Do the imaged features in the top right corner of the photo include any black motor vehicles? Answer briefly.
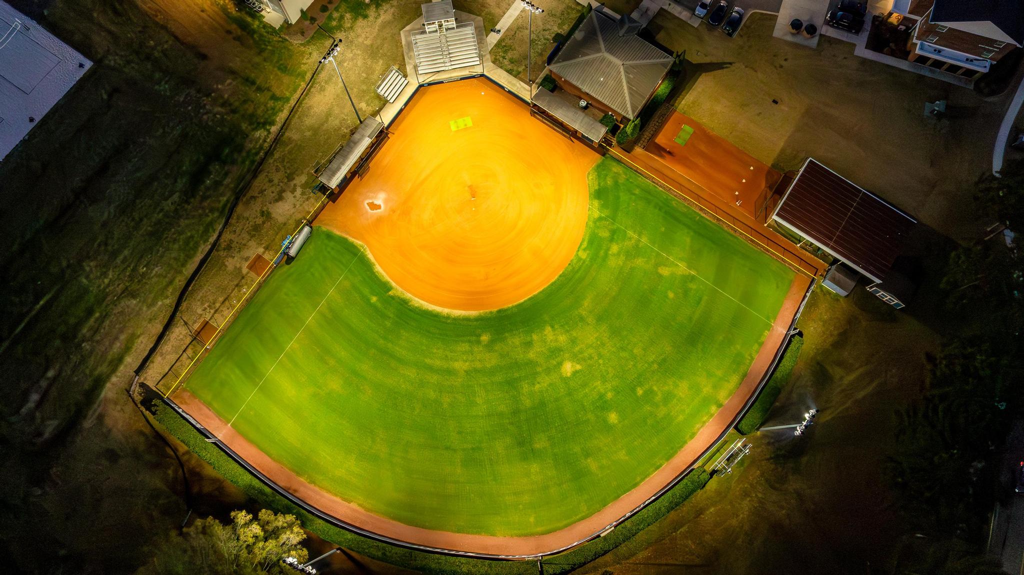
Yes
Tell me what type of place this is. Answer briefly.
sports ground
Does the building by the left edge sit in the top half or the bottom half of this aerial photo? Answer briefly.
top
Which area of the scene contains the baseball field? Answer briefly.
center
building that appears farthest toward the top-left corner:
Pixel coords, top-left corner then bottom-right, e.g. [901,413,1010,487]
[0,0,97,175]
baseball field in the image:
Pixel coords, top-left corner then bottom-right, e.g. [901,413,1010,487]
[168,76,819,555]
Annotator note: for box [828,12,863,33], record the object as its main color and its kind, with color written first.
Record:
black car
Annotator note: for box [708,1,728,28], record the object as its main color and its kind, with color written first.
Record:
black car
